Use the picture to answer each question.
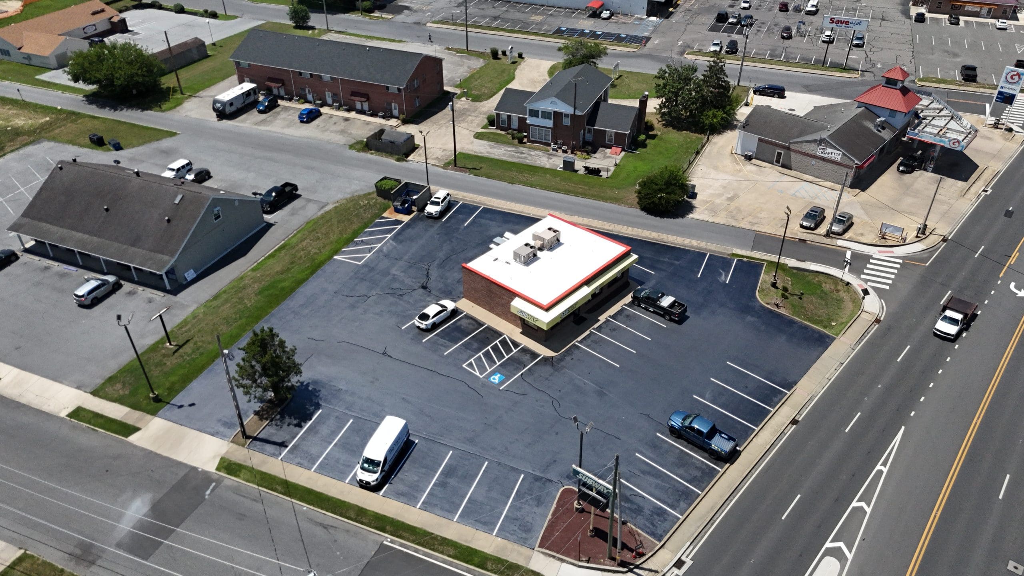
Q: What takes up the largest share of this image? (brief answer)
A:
paved ground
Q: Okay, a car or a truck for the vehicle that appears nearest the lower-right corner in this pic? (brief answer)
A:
truck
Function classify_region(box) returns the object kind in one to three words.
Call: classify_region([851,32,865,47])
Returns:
car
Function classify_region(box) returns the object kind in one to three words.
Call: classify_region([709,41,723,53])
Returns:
vehicle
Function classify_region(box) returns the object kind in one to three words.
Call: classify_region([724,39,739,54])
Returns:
car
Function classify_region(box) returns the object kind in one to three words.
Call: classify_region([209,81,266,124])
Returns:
trailer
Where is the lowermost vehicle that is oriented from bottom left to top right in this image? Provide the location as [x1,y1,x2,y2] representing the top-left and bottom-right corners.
[351,414,413,494]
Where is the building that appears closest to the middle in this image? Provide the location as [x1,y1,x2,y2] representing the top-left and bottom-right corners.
[460,213,640,340]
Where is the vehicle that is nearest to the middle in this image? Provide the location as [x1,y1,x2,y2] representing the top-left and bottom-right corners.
[408,300,460,333]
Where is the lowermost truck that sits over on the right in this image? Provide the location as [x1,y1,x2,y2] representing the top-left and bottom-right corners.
[662,410,744,464]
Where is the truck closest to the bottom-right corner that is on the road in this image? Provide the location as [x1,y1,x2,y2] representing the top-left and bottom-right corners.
[929,291,984,345]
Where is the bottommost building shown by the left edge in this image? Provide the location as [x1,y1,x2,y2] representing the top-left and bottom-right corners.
[6,155,264,288]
